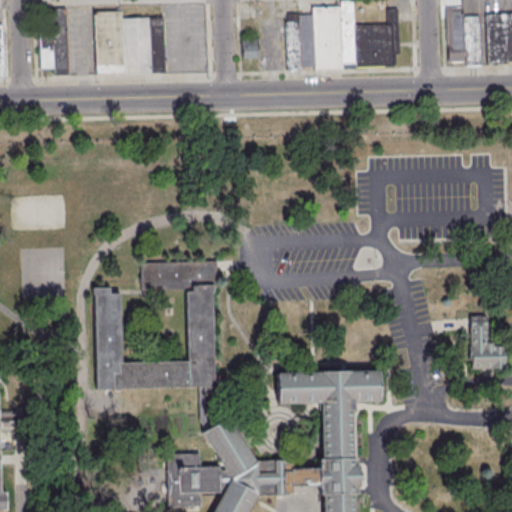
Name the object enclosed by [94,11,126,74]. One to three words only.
building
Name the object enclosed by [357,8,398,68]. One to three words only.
building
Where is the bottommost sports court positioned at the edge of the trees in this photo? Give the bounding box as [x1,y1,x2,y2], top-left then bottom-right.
[21,248,64,299]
